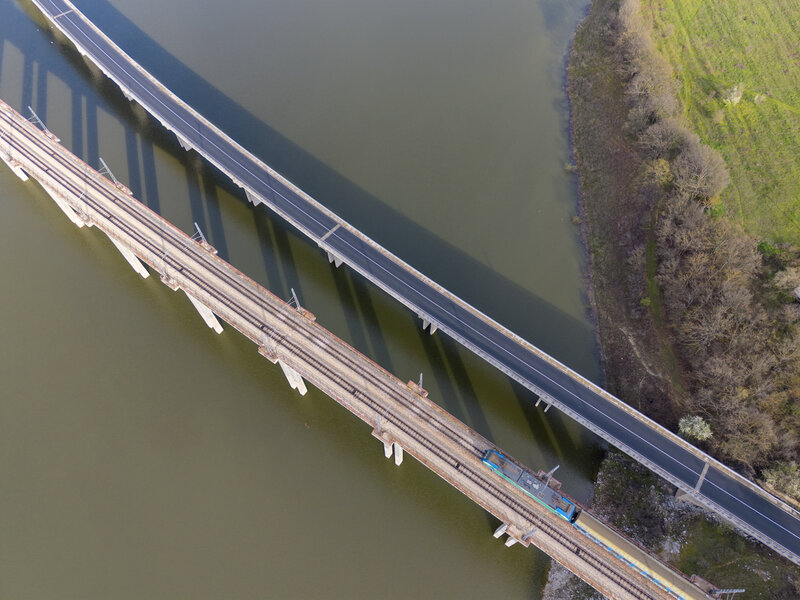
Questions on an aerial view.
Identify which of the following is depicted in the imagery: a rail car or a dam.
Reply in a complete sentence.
This aerial view contains a rail car.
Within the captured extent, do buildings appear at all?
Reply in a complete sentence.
No, I find no building anywhere in the image.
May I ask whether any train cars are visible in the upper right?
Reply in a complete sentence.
No, no train car can be made out in the upper right.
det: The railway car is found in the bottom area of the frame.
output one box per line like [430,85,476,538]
[480,449,578,525]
